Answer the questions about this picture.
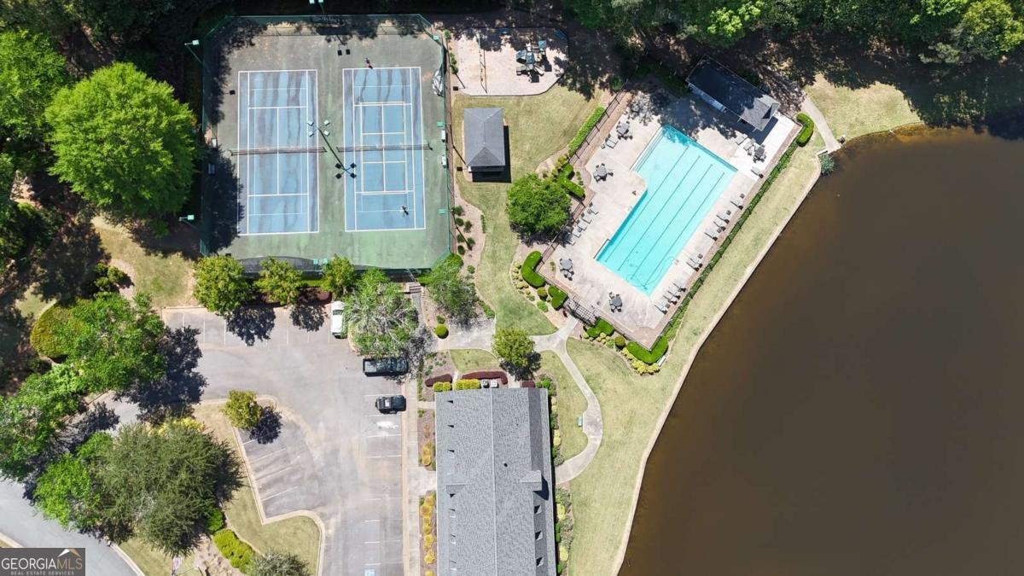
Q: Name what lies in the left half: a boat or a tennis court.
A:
tennis court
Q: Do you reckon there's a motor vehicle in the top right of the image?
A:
No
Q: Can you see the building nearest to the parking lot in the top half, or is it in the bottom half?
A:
bottom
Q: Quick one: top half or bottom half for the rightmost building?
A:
top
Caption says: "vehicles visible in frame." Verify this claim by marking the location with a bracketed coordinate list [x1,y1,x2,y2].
[364,356,408,375]
[376,395,408,411]
[328,302,346,339]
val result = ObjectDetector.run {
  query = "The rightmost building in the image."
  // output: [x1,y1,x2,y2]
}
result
[682,58,779,136]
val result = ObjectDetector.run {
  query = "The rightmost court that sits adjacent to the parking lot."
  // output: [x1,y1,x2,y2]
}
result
[343,67,425,231]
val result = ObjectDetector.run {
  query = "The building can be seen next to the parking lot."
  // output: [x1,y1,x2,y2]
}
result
[434,386,554,576]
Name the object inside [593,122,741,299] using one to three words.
swimming pool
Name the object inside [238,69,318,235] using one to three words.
tennis court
